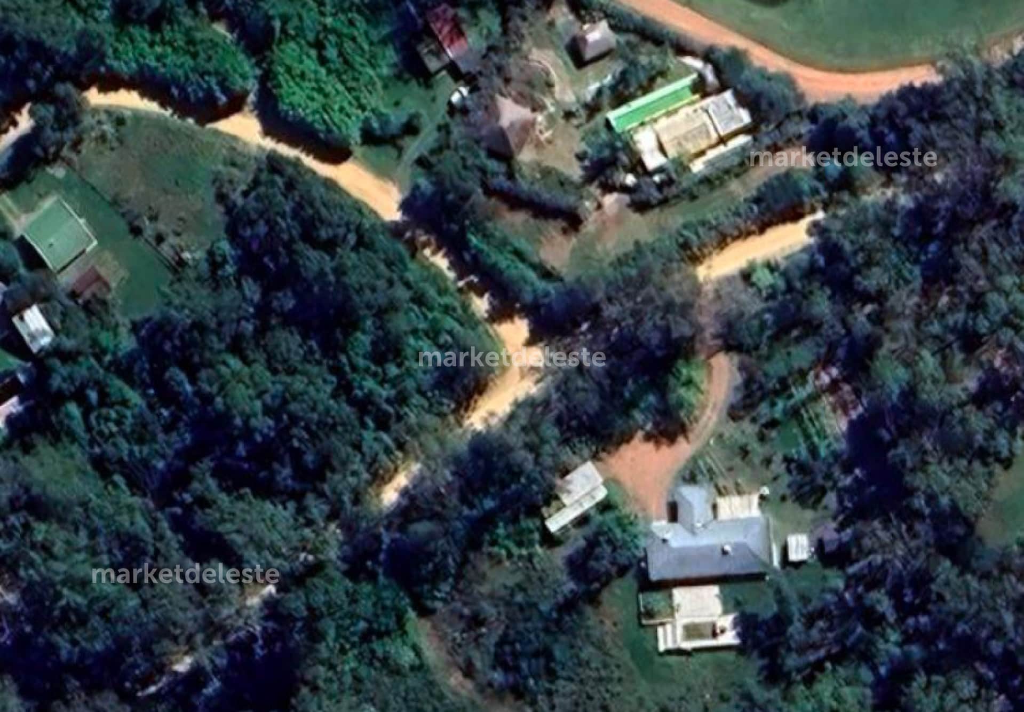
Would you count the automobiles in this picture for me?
1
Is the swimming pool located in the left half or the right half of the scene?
right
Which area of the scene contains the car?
top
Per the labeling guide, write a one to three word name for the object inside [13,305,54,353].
shed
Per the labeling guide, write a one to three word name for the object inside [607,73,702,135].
building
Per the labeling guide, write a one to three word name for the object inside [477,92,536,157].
house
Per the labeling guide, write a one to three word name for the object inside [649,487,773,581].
house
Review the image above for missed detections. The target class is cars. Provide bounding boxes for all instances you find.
[450,86,471,106]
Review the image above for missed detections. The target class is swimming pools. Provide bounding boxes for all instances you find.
[677,613,741,650]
